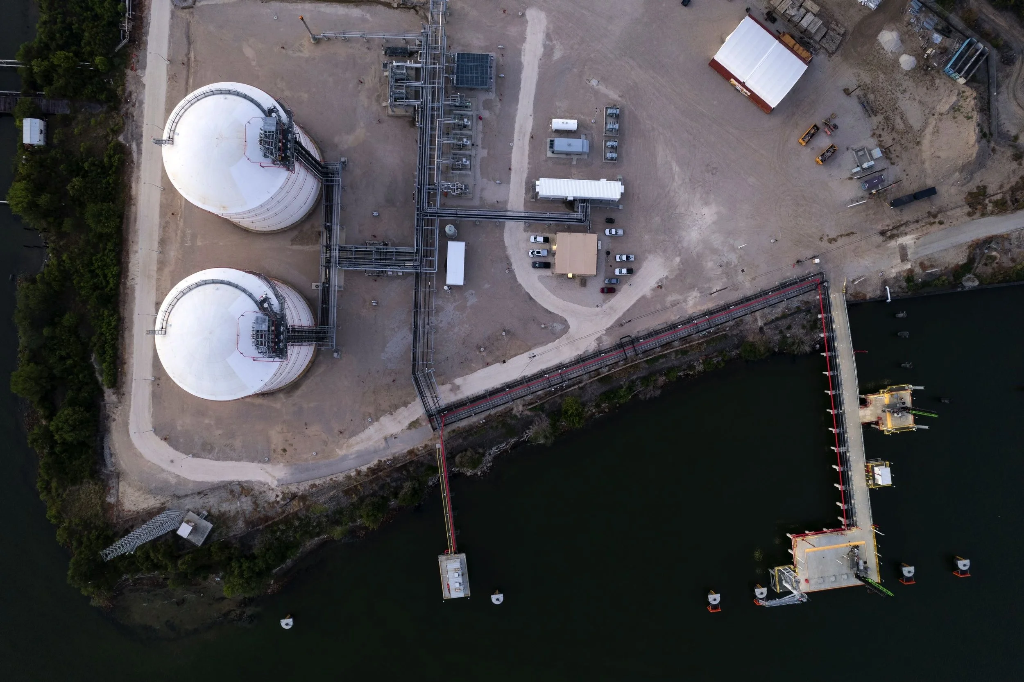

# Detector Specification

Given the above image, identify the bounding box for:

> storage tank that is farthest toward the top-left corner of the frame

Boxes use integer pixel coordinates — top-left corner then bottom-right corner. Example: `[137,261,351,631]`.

[140,80,324,232]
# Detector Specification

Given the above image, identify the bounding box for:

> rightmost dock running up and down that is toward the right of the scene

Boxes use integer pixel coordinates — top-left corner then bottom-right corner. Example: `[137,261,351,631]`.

[813,280,874,529]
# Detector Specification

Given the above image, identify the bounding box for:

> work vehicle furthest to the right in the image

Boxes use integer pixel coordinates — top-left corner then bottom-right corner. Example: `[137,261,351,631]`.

[821,117,839,135]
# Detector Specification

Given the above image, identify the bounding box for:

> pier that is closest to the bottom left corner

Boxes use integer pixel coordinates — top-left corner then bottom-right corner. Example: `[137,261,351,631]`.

[435,417,459,557]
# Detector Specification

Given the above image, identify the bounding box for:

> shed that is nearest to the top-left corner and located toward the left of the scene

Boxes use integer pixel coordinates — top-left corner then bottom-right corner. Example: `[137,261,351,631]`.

[24,118,50,150]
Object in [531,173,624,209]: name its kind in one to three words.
building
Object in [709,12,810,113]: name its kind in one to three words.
hangar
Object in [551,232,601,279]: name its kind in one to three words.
building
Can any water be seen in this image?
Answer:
Yes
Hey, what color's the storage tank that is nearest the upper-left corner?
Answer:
white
